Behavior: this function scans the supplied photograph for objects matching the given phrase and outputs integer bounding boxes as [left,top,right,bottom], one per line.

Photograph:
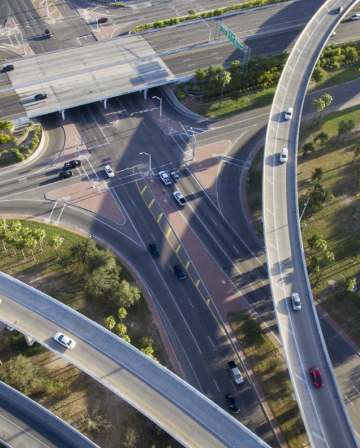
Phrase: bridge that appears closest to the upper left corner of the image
[8,34,179,120]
